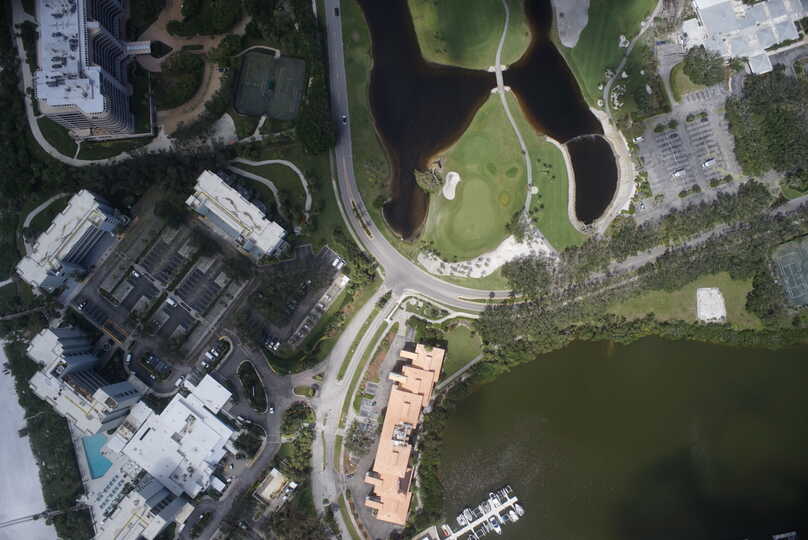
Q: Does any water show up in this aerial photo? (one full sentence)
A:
Yes, water can be seen from above here.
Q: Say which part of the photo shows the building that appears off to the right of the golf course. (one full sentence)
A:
The building that appears off to the right of the golf course is located in the top right region of the scene.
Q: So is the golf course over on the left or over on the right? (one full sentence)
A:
You can find the golf course on the right side of the picture.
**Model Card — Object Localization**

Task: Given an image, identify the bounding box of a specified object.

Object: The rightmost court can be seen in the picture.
[773,238,808,306]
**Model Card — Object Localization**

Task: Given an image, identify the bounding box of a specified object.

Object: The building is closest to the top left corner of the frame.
[35,0,152,141]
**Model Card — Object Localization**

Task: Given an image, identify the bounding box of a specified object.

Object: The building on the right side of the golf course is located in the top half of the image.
[678,0,808,73]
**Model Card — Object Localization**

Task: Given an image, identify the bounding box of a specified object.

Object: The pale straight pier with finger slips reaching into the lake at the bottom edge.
[437,486,520,540]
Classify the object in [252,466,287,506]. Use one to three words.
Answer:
building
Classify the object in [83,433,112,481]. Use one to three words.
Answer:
swimming pool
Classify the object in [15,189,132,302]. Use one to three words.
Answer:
building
